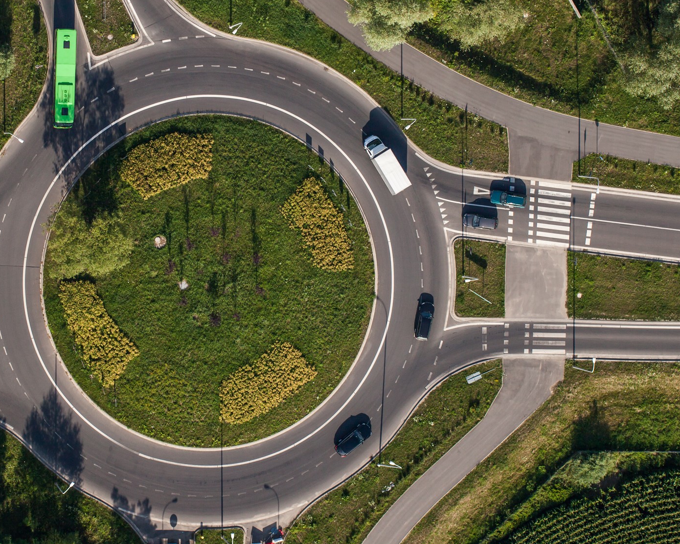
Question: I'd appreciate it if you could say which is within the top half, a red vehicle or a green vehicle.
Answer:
green vehicle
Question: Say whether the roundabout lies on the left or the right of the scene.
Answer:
left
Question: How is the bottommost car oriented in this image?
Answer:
at an angle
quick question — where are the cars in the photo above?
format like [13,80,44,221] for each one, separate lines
[490,188,527,207]
[335,423,372,453]
[463,213,498,231]
[415,301,436,341]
